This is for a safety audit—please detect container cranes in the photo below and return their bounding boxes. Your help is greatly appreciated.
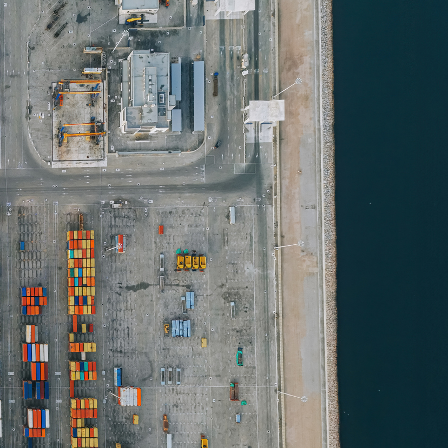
[56,78,103,104]
[61,119,107,146]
